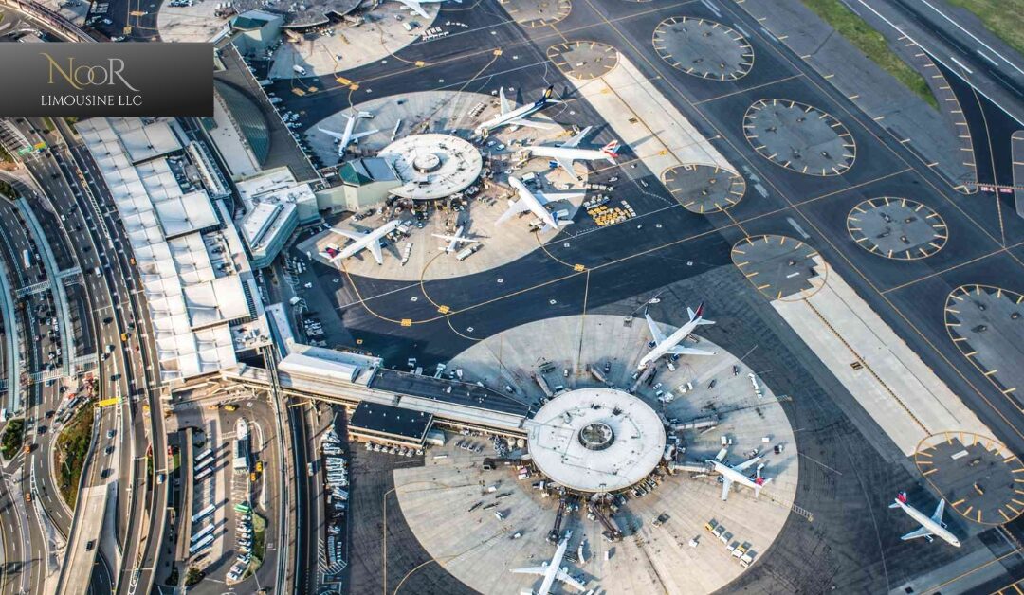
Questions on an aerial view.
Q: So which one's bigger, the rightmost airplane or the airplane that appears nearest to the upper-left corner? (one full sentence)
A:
The rightmost airplane takes up more space than the airplane that appears nearest to the upper-left corner does.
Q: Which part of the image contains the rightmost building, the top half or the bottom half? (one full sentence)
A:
The rightmost building sits in the bottom half of the picture.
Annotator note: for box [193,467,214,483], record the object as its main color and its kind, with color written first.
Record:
white vehicle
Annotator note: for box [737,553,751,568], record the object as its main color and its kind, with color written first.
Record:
white vehicle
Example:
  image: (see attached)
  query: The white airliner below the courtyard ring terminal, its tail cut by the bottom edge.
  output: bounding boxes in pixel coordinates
[515,531,589,595]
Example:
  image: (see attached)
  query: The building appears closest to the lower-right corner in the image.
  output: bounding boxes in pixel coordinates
[522,388,665,497]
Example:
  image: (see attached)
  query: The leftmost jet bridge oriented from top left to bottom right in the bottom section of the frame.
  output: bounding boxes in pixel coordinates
[529,372,557,399]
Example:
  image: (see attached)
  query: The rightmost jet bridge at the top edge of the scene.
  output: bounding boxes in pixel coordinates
[344,13,363,27]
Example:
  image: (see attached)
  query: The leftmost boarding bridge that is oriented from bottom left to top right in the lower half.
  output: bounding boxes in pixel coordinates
[628,362,656,397]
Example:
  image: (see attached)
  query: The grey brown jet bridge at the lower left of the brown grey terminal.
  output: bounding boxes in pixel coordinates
[283,28,302,45]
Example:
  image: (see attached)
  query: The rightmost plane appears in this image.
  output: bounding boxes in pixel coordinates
[886,489,961,548]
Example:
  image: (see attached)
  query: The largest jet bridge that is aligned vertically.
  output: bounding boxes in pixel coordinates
[551,486,567,542]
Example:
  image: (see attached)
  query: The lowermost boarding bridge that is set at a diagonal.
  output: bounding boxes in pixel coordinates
[588,497,621,541]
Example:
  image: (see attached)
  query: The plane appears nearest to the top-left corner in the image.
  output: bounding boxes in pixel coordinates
[318,102,379,156]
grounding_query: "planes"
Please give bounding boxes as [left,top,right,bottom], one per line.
[707,459,774,502]
[639,302,722,368]
[495,174,582,230]
[317,219,400,265]
[433,229,477,253]
[476,80,564,134]
[318,102,379,156]
[523,124,626,177]
[886,489,961,548]
[515,531,589,595]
